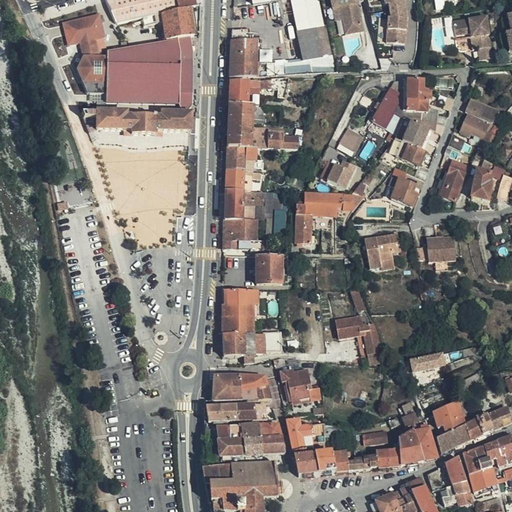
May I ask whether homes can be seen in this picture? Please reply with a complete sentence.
Yes, you can see a home in this photo.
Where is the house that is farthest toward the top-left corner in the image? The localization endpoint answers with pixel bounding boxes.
[62,13,104,55]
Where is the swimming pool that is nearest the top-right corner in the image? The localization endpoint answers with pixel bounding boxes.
[432,27,444,52]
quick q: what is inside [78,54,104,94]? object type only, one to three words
house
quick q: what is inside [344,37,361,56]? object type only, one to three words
swimming pool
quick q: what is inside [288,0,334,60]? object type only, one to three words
building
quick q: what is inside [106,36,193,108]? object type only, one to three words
building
